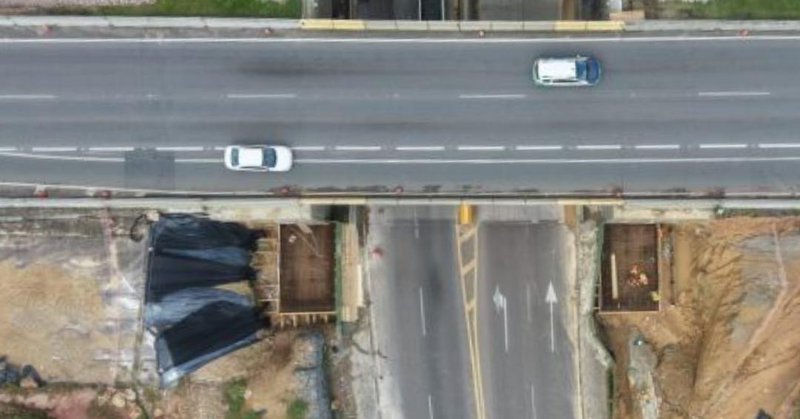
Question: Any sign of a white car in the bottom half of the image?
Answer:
No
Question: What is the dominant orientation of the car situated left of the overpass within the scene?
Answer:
horizontally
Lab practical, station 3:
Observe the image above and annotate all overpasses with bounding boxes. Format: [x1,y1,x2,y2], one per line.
[296,24,654,205]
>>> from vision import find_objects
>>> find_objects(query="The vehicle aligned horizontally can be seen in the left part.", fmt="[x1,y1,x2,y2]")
[223,142,291,174]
